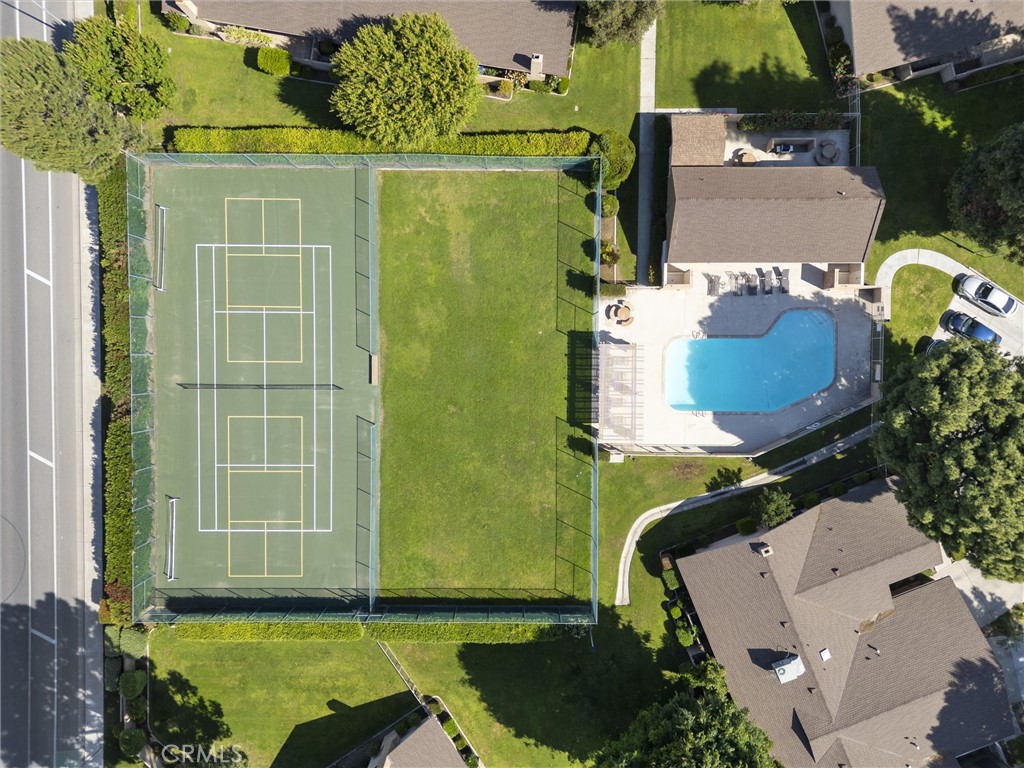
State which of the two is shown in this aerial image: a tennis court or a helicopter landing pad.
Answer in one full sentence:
Looking from above, you can make out a tennis court.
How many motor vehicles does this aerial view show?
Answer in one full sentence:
Looking from above, you can make out 3 motor vehicles.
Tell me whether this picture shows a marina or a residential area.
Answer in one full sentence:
The picture captures a residential area.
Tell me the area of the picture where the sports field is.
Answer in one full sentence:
The sports field sits in the center section of the image.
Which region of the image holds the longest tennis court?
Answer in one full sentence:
The longest tennis court is located in the left region of the scene.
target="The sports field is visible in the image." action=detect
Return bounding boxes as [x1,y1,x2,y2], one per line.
[380,170,593,604]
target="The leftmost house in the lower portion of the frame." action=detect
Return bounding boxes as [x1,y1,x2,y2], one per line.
[330,710,468,768]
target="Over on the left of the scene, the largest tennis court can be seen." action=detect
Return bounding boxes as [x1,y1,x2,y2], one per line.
[154,168,381,605]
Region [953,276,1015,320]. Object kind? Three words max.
car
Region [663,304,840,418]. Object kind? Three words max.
swimming pool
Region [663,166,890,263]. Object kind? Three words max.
building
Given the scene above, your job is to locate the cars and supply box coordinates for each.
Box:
[940,311,999,351]
[913,341,961,374]
[953,276,1015,320]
